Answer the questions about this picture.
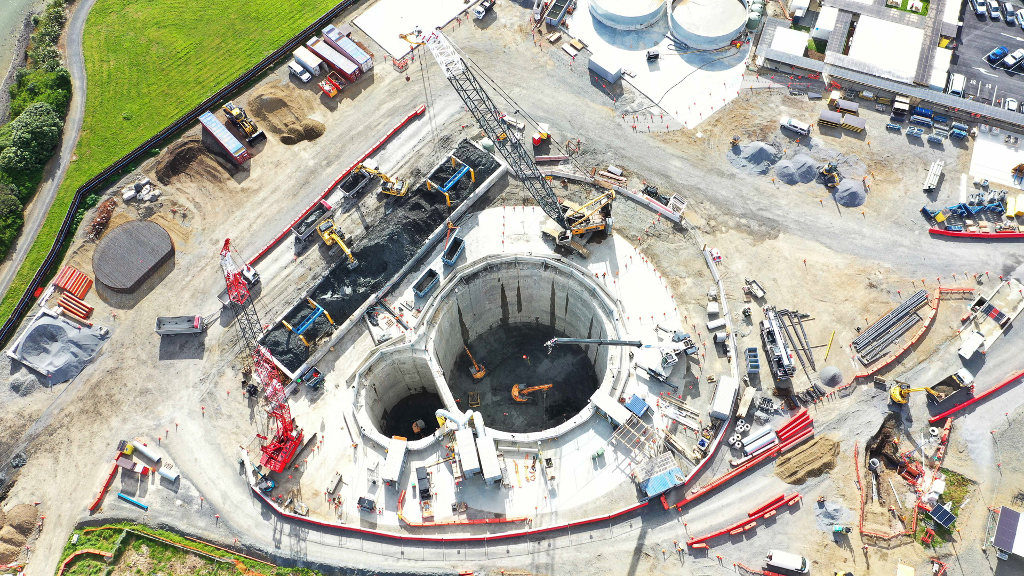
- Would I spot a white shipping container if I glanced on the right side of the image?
Yes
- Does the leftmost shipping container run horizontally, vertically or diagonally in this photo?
diagonally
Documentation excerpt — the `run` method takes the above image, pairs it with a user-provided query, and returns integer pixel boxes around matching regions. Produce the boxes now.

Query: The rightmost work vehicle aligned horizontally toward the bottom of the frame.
[883,381,960,415]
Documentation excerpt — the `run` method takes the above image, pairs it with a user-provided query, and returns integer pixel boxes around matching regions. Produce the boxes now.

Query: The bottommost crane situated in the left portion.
[216,232,324,481]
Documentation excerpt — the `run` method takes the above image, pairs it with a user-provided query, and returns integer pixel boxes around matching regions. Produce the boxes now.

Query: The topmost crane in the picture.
[392,30,617,262]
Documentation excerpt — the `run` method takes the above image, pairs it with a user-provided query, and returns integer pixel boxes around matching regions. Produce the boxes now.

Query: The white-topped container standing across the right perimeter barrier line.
[709,374,737,421]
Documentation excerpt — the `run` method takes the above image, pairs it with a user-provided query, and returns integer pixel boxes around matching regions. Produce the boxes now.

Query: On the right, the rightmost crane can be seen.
[760,292,804,378]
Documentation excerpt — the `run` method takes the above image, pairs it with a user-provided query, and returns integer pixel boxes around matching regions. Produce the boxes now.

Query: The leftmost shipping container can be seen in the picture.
[198,111,251,165]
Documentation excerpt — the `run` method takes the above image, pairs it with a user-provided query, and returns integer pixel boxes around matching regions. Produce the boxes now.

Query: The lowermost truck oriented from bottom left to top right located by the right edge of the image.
[926,370,981,417]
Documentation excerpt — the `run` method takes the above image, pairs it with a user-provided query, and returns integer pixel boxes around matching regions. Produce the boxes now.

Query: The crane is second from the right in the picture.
[542,327,698,394]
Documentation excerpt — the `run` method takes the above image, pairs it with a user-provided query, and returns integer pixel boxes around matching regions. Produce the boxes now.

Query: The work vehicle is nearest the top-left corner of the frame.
[224,103,261,143]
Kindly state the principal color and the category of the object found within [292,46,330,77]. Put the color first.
white shipping container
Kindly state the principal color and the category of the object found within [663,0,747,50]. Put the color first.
white water tank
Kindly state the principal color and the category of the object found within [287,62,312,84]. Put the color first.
white truck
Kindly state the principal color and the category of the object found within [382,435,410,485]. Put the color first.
white shipping container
